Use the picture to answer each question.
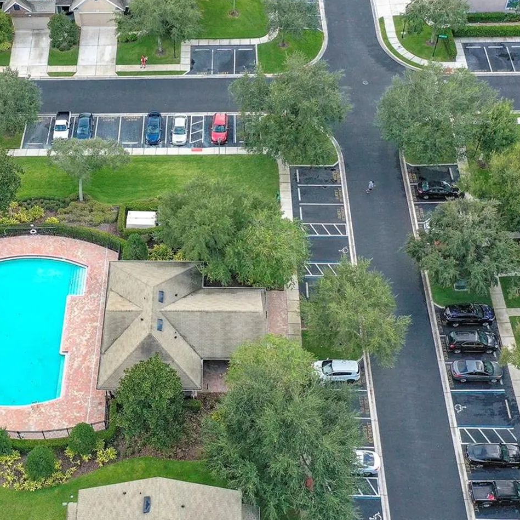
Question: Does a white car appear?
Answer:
Yes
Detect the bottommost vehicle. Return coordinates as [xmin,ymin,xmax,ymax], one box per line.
[462,480,520,510]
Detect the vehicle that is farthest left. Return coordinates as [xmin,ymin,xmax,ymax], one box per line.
[51,111,73,145]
